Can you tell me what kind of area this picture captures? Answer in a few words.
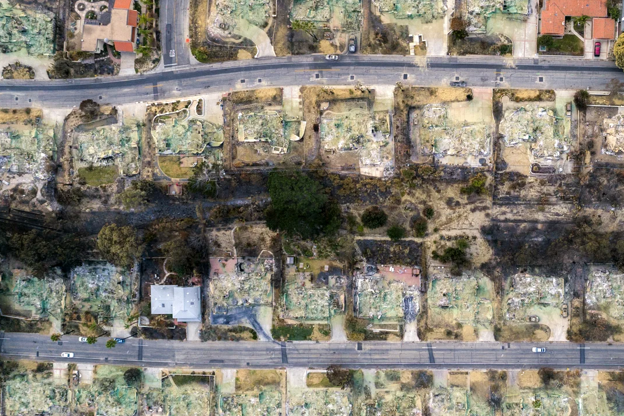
residential area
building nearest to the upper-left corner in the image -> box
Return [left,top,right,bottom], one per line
[0,8,63,59]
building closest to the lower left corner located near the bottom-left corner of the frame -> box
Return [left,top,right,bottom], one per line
[0,372,72,416]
